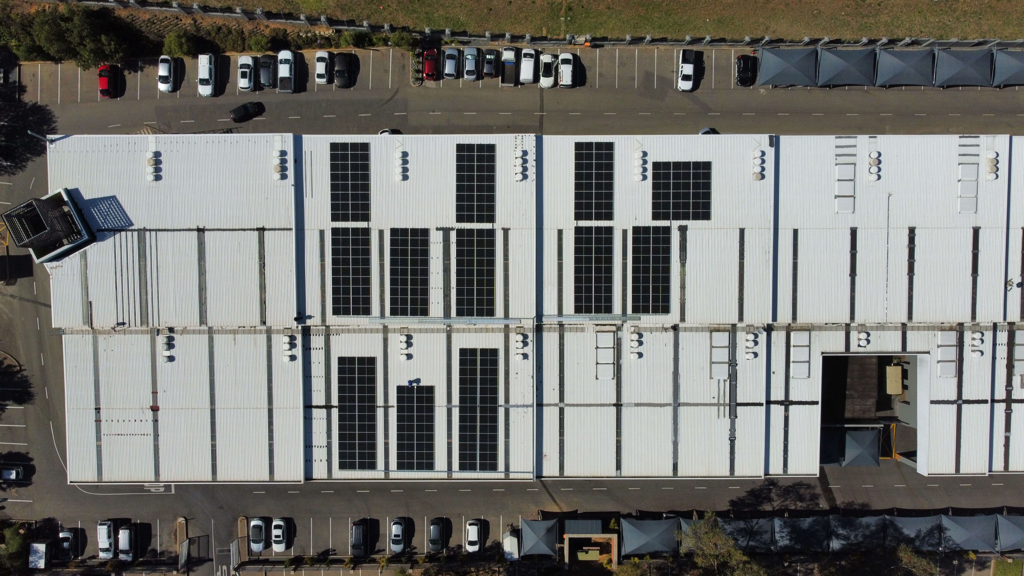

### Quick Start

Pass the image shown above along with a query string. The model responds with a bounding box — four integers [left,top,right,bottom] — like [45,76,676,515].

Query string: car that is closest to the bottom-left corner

[57,526,78,562]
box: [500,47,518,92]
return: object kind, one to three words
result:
vehicle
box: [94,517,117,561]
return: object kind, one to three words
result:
truck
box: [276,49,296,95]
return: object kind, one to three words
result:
vehicle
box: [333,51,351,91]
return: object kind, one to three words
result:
car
